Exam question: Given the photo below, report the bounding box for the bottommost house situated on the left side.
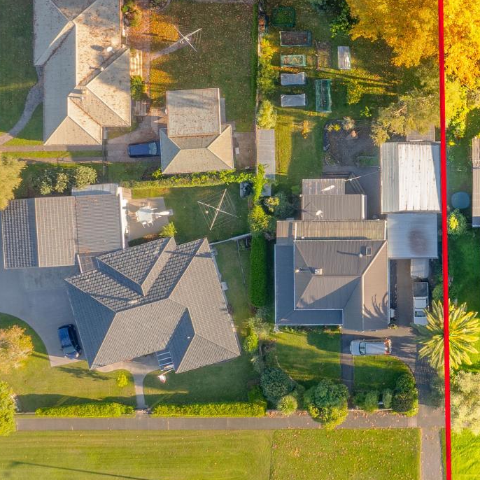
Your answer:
[63,236,242,374]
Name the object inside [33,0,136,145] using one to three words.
house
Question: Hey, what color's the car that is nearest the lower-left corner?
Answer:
blue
